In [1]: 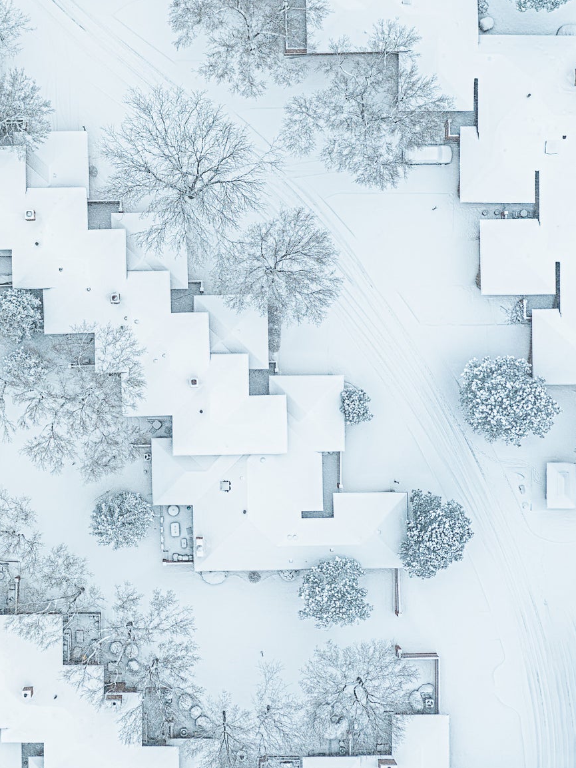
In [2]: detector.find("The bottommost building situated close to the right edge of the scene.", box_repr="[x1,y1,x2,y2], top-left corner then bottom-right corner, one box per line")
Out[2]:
[544,463,576,508]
